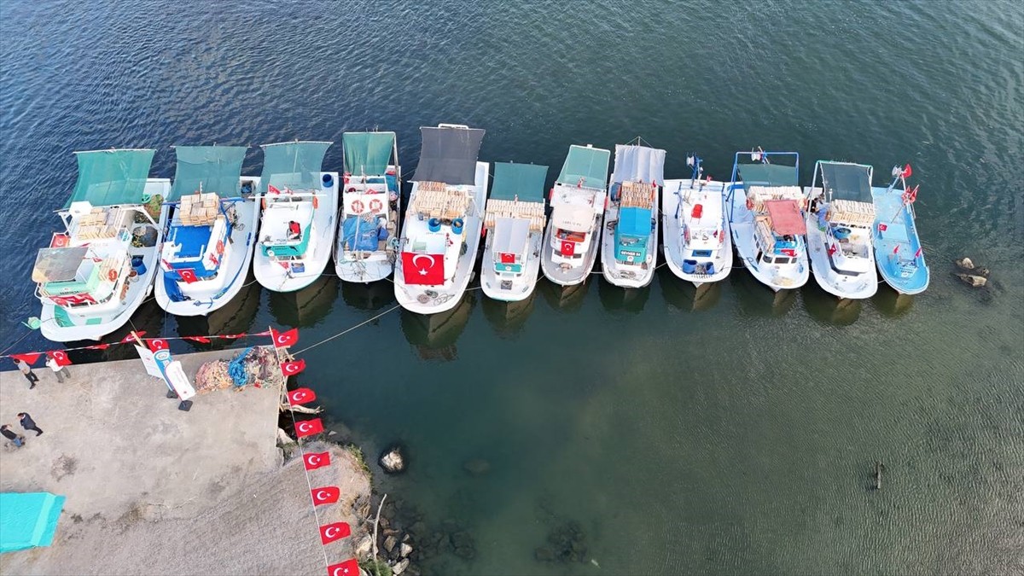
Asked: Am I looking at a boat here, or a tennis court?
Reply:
boat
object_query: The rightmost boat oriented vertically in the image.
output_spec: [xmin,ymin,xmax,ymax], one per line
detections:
[857,151,925,296]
